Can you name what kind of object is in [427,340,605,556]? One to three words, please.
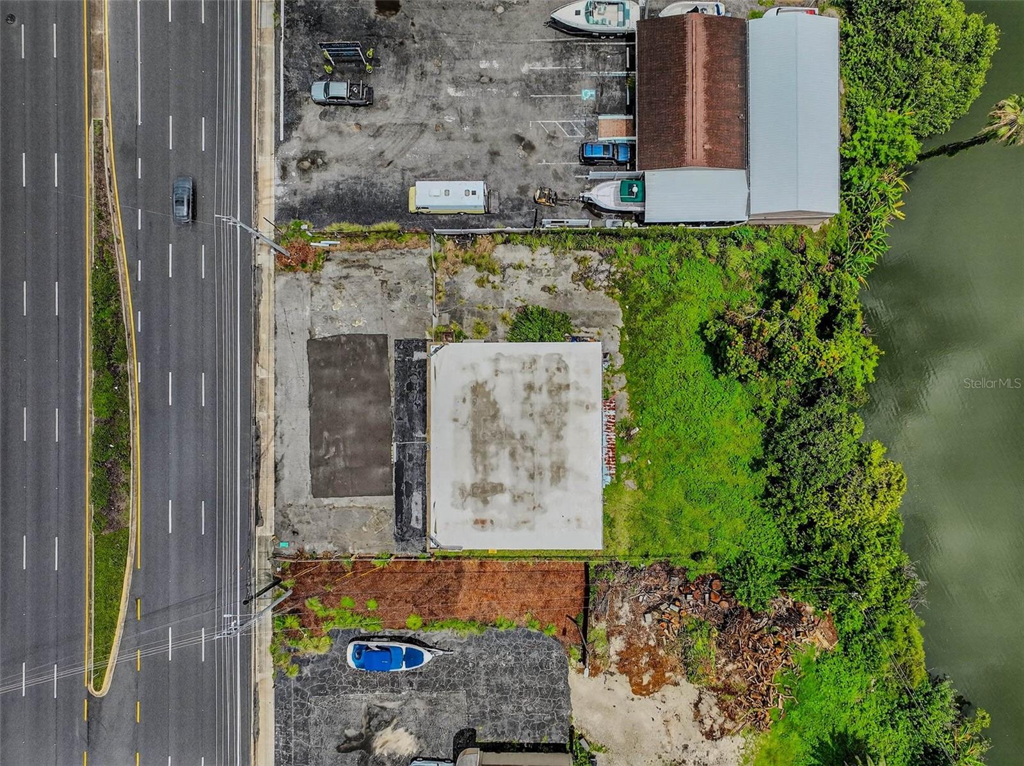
building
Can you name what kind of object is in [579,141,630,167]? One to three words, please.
car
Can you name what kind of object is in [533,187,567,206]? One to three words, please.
work vehicle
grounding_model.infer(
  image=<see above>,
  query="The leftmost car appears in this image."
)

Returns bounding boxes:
[171,176,198,225]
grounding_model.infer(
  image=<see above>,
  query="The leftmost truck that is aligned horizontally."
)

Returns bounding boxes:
[313,80,375,108]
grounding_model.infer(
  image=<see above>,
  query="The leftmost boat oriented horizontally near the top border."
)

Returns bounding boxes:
[549,0,646,30]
